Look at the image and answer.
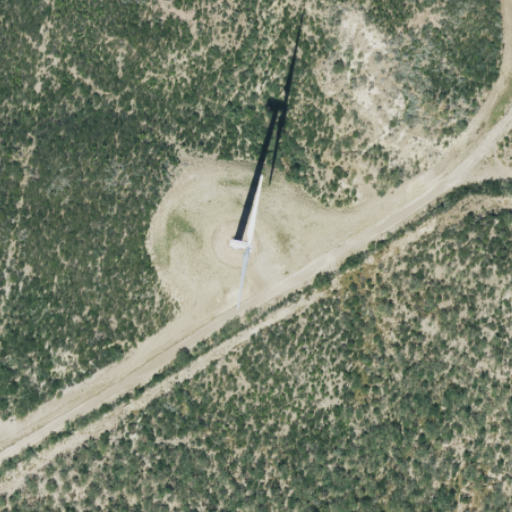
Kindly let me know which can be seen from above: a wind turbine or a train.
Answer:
wind turbine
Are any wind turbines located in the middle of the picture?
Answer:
Yes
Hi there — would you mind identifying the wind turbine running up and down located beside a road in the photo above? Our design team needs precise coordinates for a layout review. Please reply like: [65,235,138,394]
[228,177,262,310]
